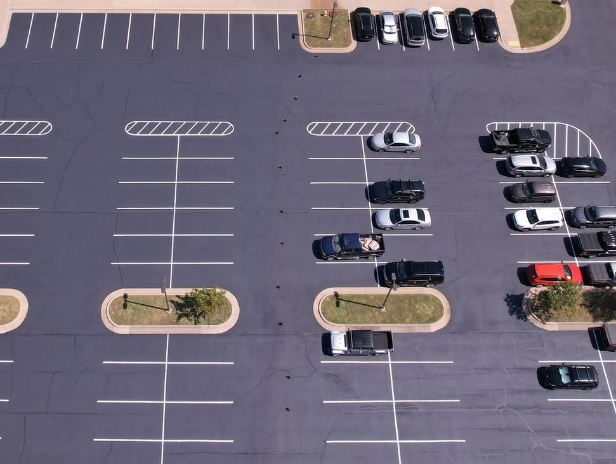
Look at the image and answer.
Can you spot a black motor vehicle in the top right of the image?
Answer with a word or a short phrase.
Yes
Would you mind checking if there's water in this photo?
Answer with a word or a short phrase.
No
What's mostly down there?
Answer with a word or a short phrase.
paved ground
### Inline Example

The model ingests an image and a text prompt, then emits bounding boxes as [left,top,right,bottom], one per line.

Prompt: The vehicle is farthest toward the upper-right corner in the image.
[474,8,498,44]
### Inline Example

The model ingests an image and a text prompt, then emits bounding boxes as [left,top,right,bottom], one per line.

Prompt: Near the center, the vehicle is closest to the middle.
[321,232,384,258]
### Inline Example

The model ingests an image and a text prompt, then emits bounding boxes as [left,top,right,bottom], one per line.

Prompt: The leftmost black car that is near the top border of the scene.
[352,6,375,43]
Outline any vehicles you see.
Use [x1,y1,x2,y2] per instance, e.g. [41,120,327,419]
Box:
[503,180,561,205]
[510,206,565,231]
[403,10,426,46]
[474,8,498,44]
[489,127,551,153]
[503,152,557,177]
[572,231,616,257]
[538,362,599,391]
[579,261,616,288]
[526,259,580,287]
[567,203,616,228]
[376,206,429,231]
[378,10,400,45]
[352,6,375,43]
[426,7,448,42]
[371,178,425,203]
[555,156,608,178]
[327,327,396,356]
[382,258,445,287]
[598,324,616,352]
[371,131,421,153]
[321,232,384,258]
[452,8,477,43]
